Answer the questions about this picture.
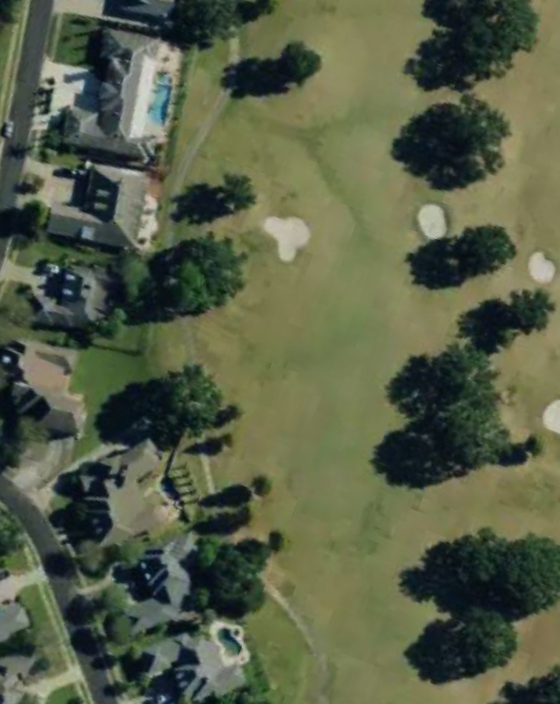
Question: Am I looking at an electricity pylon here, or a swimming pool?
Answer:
swimming pool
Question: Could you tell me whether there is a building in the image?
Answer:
Yes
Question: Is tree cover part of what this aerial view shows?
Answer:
Yes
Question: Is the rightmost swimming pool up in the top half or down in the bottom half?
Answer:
bottom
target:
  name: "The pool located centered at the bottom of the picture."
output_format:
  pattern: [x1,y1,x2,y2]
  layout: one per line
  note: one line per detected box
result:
[210,621,249,665]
